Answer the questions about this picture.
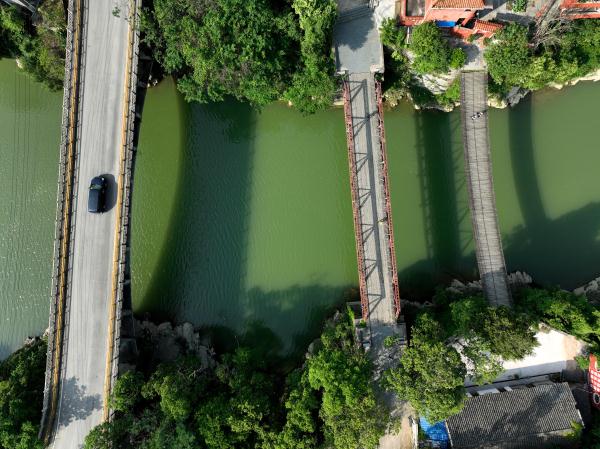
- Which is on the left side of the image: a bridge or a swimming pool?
bridge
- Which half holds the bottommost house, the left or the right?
right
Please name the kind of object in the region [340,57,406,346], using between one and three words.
bridge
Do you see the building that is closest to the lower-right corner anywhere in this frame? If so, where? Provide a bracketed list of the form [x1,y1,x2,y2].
[442,380,589,449]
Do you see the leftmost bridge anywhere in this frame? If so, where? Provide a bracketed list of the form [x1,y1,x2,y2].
[37,0,159,449]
